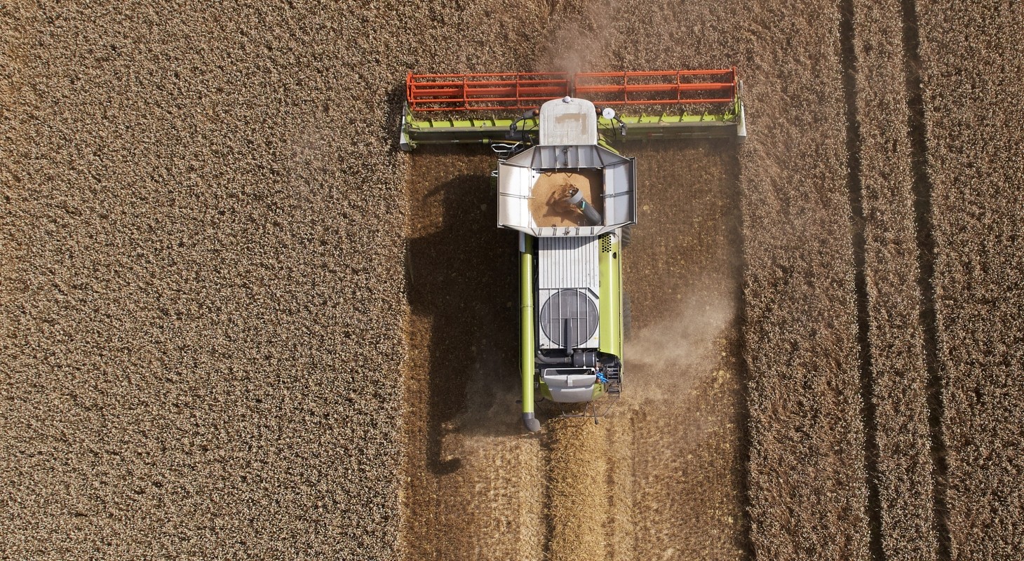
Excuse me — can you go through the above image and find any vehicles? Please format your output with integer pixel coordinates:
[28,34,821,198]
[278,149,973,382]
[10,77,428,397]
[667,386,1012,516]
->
[398,68,748,435]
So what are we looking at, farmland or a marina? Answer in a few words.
farmland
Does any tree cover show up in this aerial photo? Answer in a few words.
No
